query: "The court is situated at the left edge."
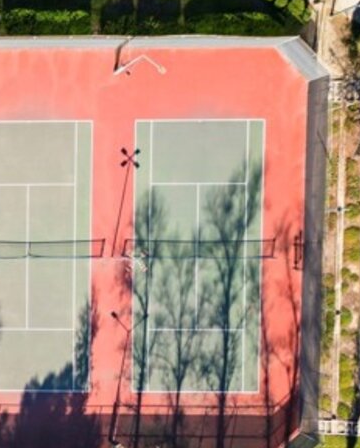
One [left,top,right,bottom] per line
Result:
[0,120,92,391]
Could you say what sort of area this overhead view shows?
sports ground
